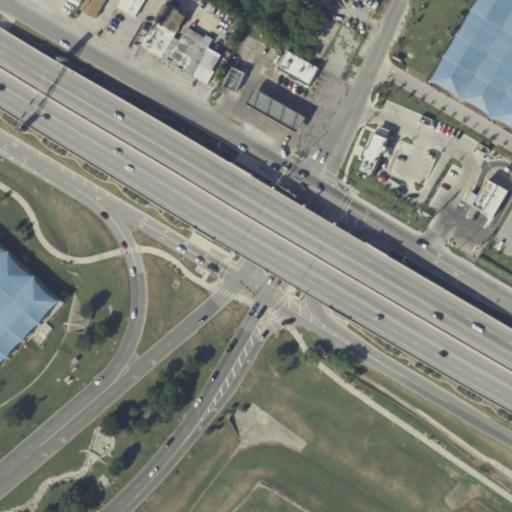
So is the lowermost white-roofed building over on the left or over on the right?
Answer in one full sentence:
The lowermost white-roofed building appears in the right half of the scene.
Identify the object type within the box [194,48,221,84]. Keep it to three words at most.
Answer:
building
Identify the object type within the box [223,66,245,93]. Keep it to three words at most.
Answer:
building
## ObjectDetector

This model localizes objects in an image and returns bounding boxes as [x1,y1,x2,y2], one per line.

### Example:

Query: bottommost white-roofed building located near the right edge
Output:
[474,180,508,217]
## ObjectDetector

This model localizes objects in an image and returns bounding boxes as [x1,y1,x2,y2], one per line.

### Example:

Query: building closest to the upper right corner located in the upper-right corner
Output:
[428,0,512,130]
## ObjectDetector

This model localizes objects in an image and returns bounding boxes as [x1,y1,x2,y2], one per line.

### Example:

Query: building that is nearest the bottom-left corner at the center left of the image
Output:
[0,244,59,363]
